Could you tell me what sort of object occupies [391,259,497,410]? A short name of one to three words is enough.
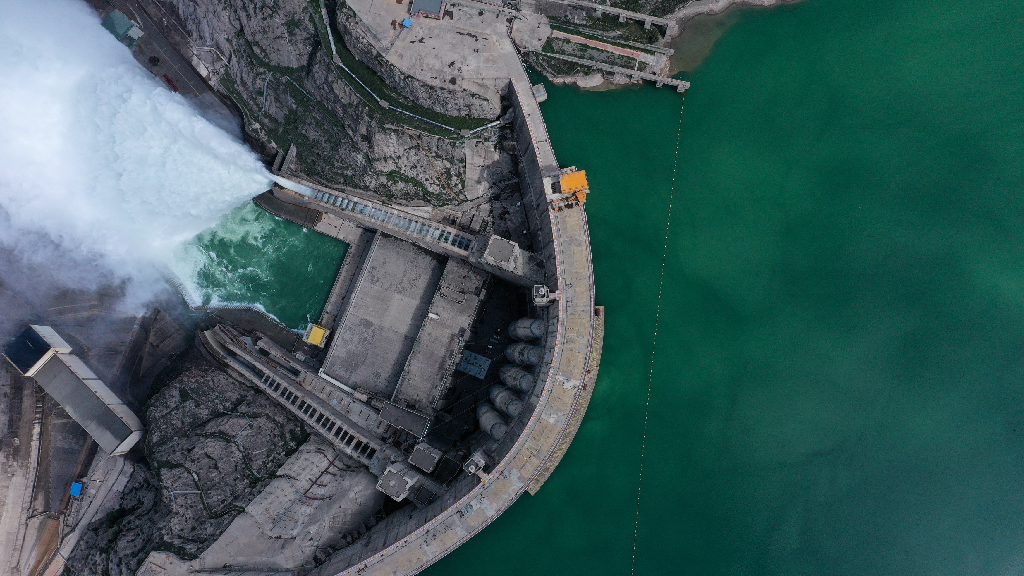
building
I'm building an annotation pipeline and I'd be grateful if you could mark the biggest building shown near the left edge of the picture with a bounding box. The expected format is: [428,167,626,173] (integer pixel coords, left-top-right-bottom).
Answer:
[2,325,144,454]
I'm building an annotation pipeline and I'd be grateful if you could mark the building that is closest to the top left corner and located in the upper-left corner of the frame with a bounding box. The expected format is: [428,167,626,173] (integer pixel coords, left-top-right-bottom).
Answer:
[105,9,145,47]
